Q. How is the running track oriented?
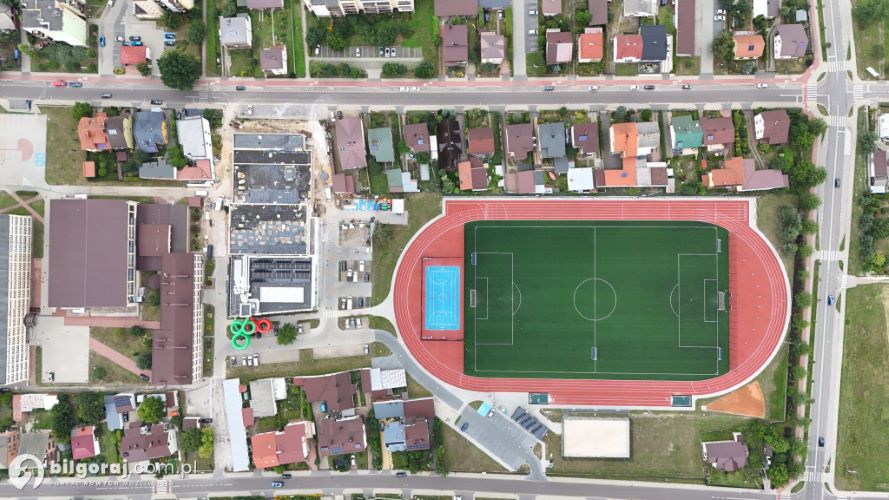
from side to side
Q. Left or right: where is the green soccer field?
right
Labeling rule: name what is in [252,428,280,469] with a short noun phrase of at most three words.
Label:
house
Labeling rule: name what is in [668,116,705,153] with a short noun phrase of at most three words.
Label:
house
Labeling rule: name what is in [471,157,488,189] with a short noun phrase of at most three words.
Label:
shed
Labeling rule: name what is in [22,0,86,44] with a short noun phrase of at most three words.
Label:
building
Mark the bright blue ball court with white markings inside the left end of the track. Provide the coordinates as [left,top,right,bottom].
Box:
[425,266,459,331]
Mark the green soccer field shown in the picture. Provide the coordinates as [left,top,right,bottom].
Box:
[464,220,729,379]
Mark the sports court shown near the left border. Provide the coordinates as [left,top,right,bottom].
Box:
[0,114,49,187]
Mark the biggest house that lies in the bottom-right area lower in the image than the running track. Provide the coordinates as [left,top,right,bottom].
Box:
[701,431,747,470]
